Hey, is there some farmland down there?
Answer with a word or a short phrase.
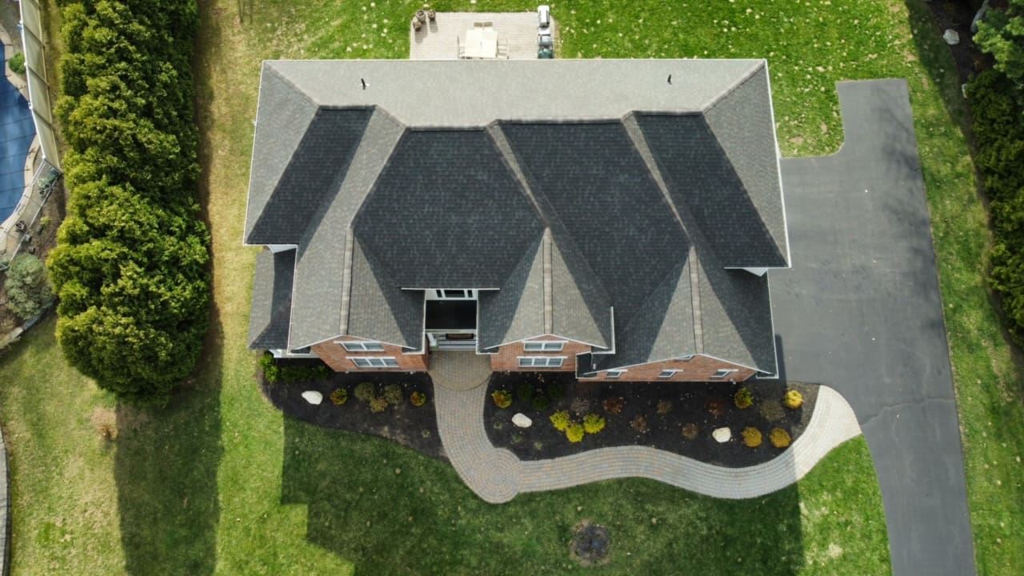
No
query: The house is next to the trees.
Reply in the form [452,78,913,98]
[242,58,792,383]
